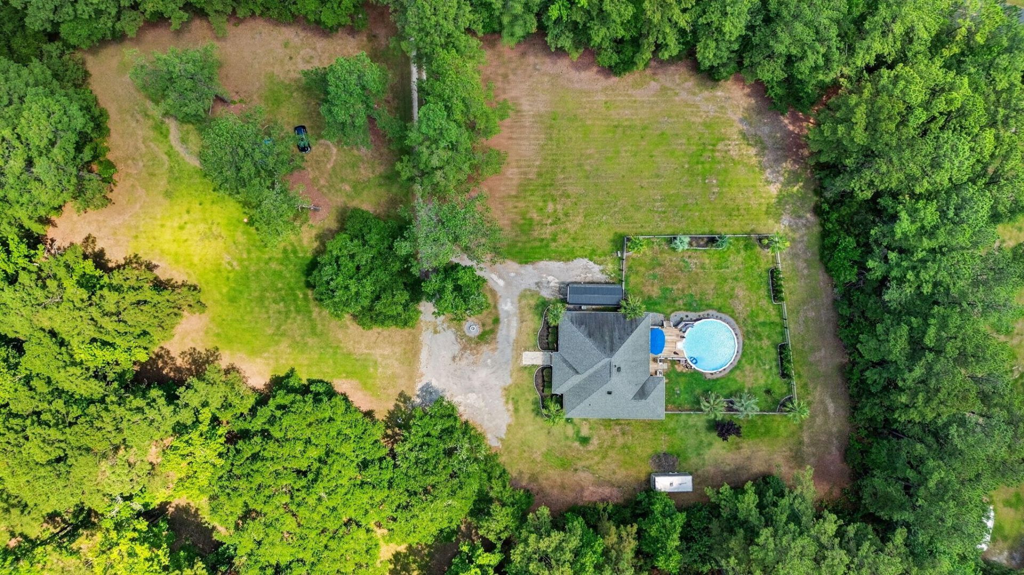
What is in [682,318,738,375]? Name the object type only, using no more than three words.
swimming pool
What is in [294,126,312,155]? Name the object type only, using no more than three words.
car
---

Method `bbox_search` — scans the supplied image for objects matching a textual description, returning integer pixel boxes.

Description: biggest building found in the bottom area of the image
[552,311,665,419]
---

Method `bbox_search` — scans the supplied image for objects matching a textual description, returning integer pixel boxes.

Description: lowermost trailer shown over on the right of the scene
[642,471,692,492]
